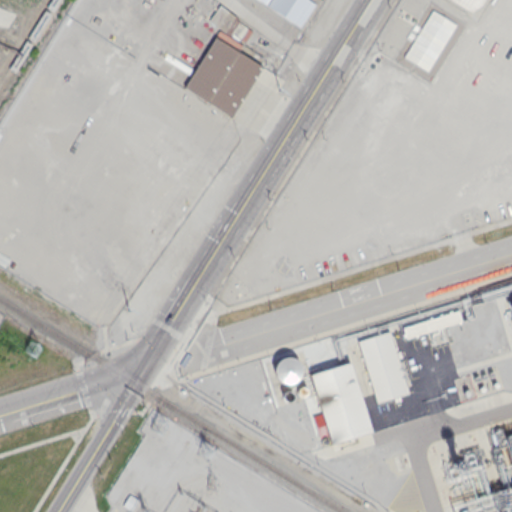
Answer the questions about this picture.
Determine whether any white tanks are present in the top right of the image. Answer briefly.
No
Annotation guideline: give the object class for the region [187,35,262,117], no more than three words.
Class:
building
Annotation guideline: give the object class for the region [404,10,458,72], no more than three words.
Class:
shed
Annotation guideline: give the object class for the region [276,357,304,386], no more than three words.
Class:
storage tank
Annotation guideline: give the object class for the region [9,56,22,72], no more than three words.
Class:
rail car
